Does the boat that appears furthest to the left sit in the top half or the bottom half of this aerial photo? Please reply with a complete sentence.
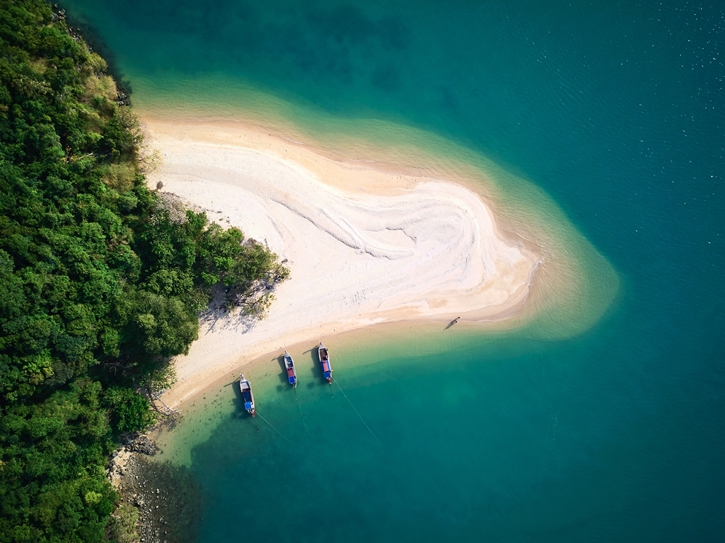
You can find the boat that appears furthest to the left in the bottom half.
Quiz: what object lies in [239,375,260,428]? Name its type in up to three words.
boat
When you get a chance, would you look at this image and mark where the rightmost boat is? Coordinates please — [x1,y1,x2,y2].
[319,343,333,396]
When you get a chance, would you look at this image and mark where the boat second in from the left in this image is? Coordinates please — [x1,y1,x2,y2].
[285,352,297,400]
